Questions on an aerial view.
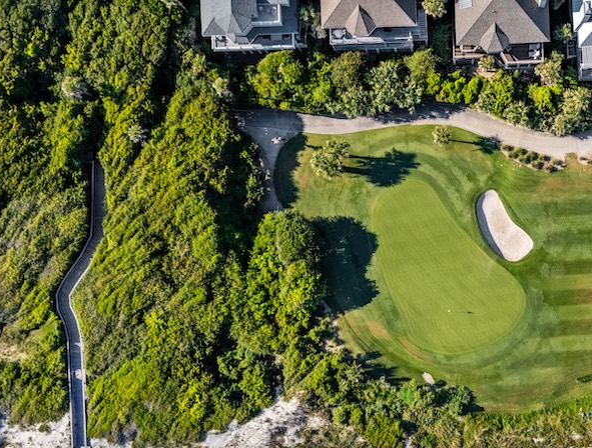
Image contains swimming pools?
No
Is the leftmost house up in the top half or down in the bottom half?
top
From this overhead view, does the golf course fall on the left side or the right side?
right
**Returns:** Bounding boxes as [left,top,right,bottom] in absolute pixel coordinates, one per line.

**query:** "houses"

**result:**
[320,0,428,55]
[201,0,309,56]
[563,0,592,84]
[453,0,550,69]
